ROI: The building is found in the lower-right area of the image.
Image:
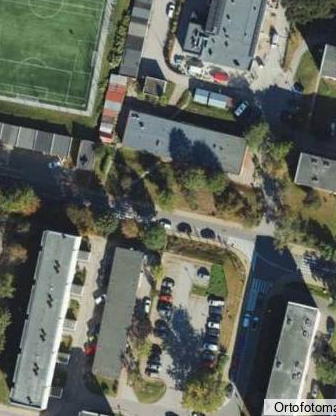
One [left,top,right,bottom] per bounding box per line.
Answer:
[263,303,320,416]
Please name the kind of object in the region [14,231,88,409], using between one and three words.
building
